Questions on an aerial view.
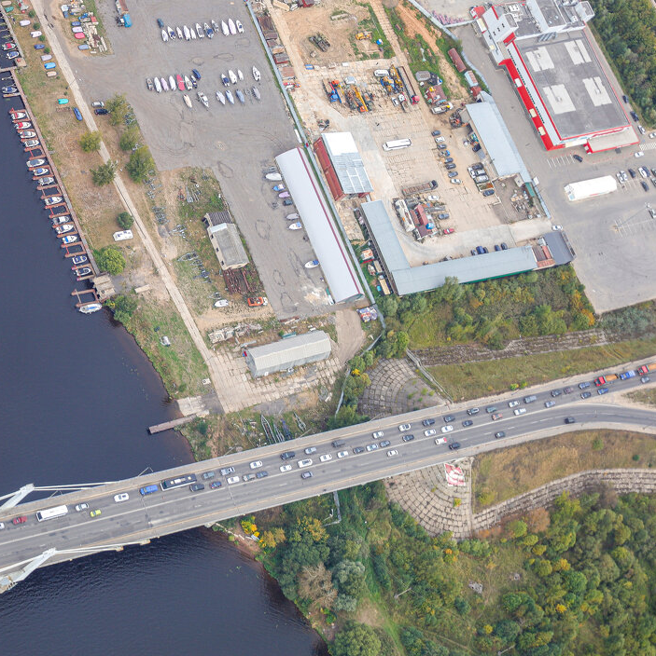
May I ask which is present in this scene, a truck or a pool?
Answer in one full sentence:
Visible in the photo is a truck.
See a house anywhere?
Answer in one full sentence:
Yes, this view includes a house.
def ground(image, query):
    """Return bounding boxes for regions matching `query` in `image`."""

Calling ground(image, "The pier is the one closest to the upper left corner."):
[0,3,25,59]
